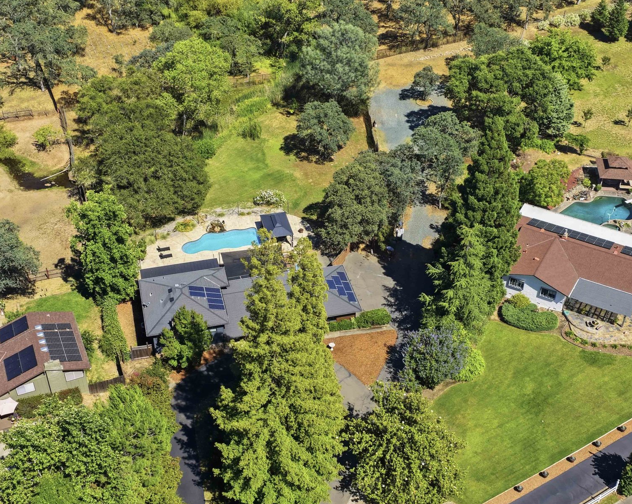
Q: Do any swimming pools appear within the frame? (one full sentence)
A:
Yes, you can see a swimming pool in this photo.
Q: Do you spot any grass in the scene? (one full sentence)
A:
Yes, there is grass in the image.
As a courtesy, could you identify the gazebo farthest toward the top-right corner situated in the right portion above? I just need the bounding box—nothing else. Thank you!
[594,155,632,194]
